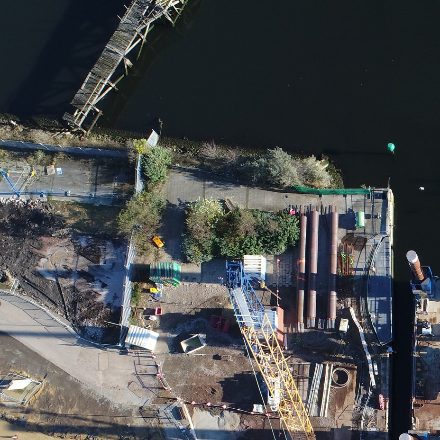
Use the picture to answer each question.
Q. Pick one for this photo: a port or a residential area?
port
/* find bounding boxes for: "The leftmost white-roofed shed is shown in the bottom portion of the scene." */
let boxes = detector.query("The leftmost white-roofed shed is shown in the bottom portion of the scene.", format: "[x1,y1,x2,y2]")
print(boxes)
[125,325,167,354]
